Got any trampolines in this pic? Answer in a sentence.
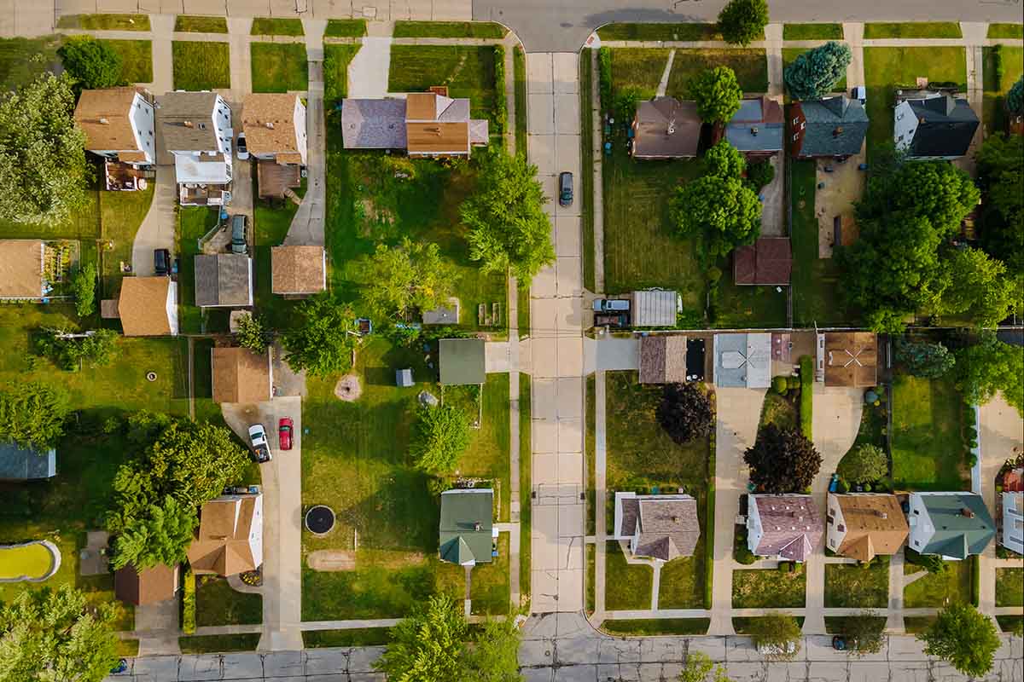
Yes, there's a trampoline down there.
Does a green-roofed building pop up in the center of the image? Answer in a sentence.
Yes, looking in the center of the image, one can make out a green-roofed building.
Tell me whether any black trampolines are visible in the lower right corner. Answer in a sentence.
No, there's no black trampoline to be seen in the lower right corner.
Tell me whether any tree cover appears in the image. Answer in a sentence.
Yes, tree cover can be seen from above here.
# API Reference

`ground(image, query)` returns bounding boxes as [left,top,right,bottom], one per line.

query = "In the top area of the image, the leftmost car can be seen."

[153,248,172,276]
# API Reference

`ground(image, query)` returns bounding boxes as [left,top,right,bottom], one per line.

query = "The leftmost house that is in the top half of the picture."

[0,239,54,300]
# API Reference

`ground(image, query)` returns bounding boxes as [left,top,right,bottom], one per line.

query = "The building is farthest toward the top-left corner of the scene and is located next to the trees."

[73,88,157,166]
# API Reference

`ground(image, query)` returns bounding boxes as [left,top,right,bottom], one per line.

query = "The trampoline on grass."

[305,504,336,535]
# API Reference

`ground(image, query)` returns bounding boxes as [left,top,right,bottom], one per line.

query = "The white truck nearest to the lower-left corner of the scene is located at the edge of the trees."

[249,424,272,463]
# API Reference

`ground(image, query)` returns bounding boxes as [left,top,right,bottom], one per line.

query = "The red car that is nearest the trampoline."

[277,416,294,450]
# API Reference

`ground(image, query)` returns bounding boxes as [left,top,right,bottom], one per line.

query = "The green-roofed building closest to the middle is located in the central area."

[439,339,485,383]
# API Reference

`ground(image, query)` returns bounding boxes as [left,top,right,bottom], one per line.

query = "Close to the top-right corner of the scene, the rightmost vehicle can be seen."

[850,78,869,109]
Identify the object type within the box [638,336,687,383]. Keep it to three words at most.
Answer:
building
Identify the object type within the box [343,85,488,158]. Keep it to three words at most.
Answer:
house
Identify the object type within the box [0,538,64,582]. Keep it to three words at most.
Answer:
swimming pool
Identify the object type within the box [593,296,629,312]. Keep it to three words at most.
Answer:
car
